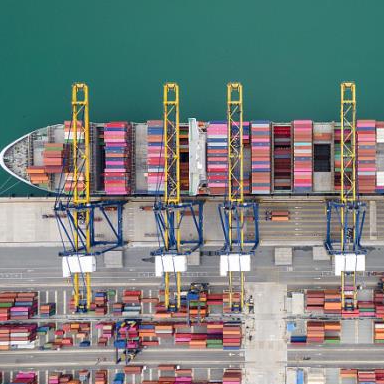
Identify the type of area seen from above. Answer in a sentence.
It's a port.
